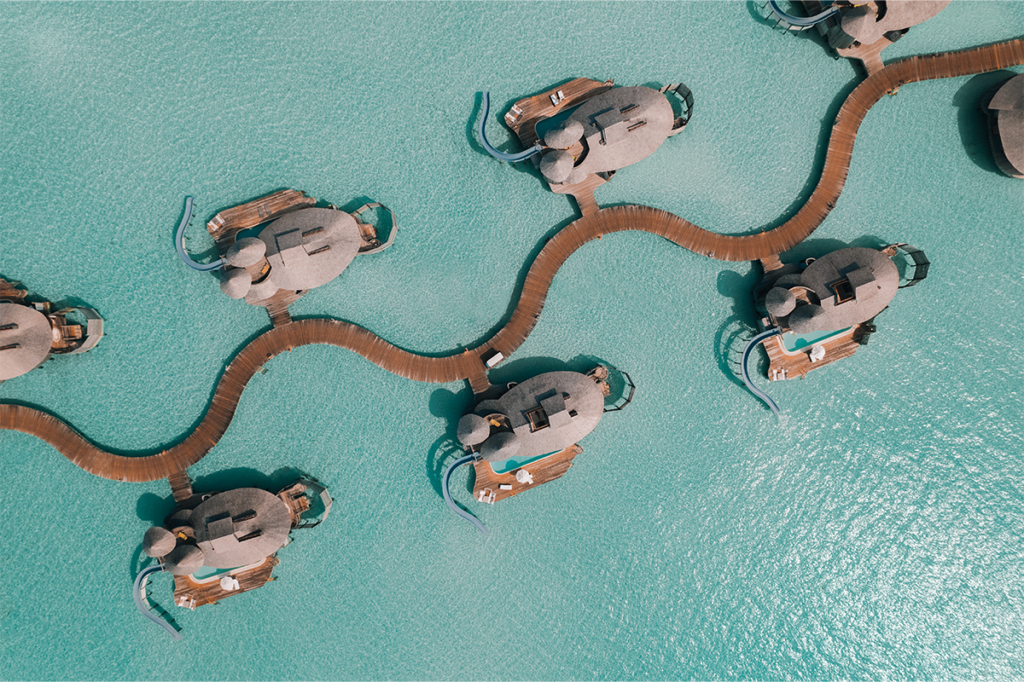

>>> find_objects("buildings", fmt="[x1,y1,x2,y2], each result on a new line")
[503,79,682,221]
[141,471,318,610]
[458,367,615,503]
[0,287,86,388]
[798,0,955,78]
[749,248,902,383]
[202,191,383,330]
[973,68,1024,181]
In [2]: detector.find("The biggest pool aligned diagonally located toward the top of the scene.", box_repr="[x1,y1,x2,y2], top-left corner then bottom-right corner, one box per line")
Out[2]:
[534,103,587,144]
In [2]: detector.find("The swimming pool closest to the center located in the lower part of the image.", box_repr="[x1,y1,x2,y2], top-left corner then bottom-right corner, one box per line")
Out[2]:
[488,447,568,474]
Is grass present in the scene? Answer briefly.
No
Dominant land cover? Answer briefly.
water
